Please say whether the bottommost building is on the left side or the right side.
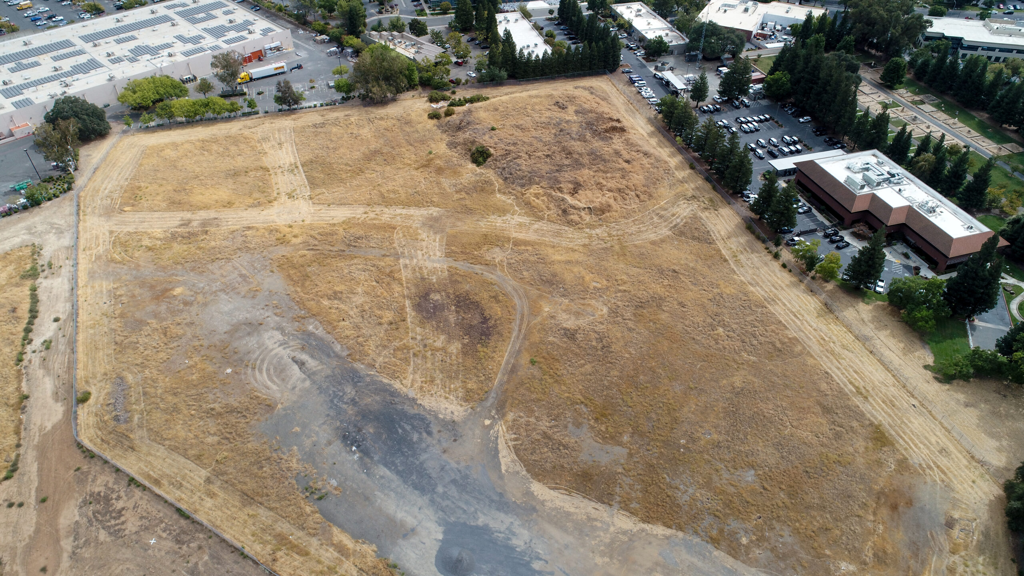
right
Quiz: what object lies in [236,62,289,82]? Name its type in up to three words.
vehicle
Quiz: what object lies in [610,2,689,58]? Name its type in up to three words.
building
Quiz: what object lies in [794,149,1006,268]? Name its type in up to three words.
building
